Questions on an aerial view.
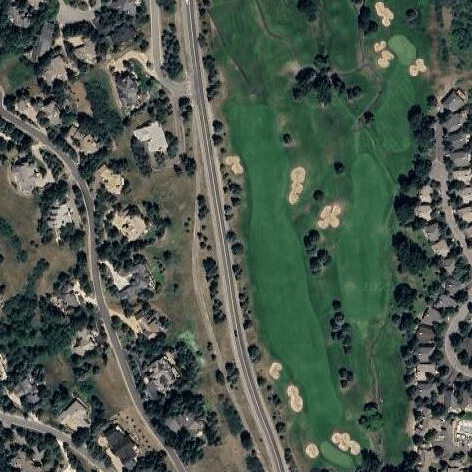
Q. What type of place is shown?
golf course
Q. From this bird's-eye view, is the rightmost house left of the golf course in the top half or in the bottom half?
bottom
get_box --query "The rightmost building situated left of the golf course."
[167,407,202,436]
